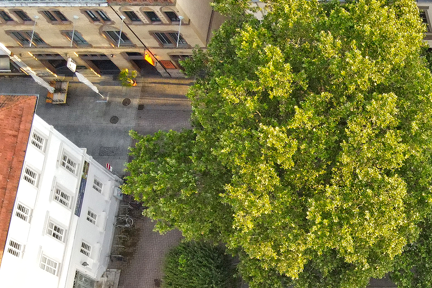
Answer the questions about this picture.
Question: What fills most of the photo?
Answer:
trees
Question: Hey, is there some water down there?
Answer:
No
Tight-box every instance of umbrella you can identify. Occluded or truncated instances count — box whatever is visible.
[77,73,107,101]
[27,69,56,94]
